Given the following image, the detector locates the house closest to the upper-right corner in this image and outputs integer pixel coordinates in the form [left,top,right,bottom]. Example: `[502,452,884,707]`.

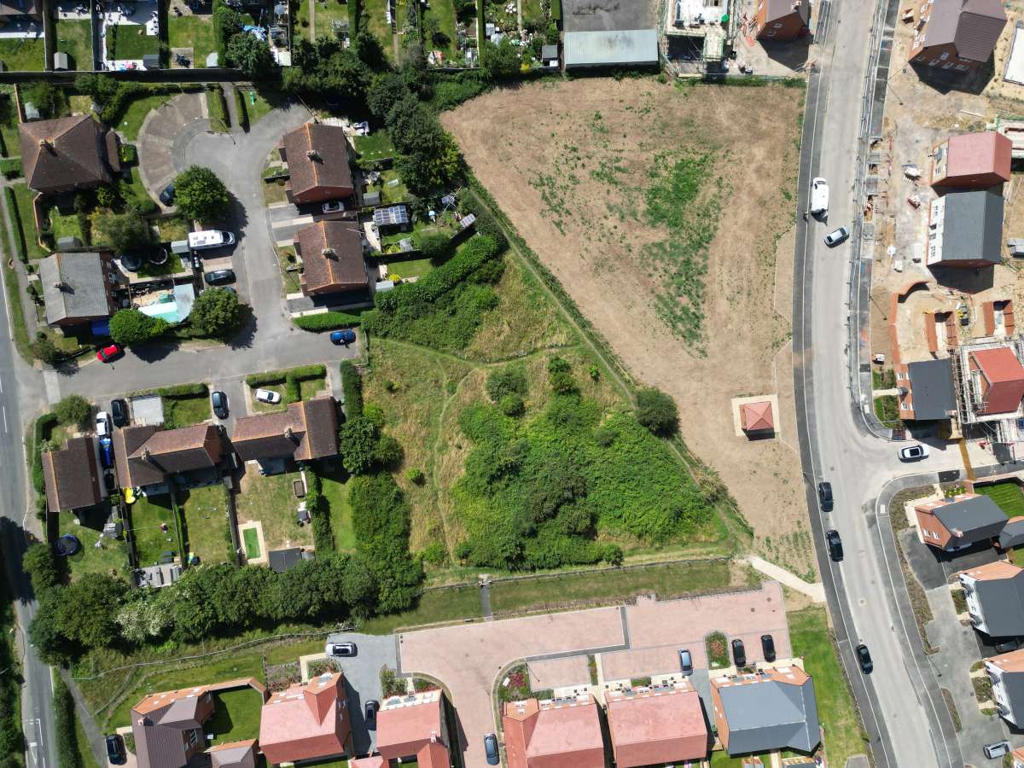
[906,0,1009,77]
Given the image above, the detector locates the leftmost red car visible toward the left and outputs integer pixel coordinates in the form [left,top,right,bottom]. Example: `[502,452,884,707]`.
[96,344,124,362]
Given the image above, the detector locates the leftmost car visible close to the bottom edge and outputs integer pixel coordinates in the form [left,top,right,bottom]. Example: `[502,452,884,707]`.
[107,732,126,764]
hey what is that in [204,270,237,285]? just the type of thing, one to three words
car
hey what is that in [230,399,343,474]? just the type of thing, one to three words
house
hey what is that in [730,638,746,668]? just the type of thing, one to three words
car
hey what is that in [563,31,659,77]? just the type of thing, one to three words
barn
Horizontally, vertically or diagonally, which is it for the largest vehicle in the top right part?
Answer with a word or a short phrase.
vertically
